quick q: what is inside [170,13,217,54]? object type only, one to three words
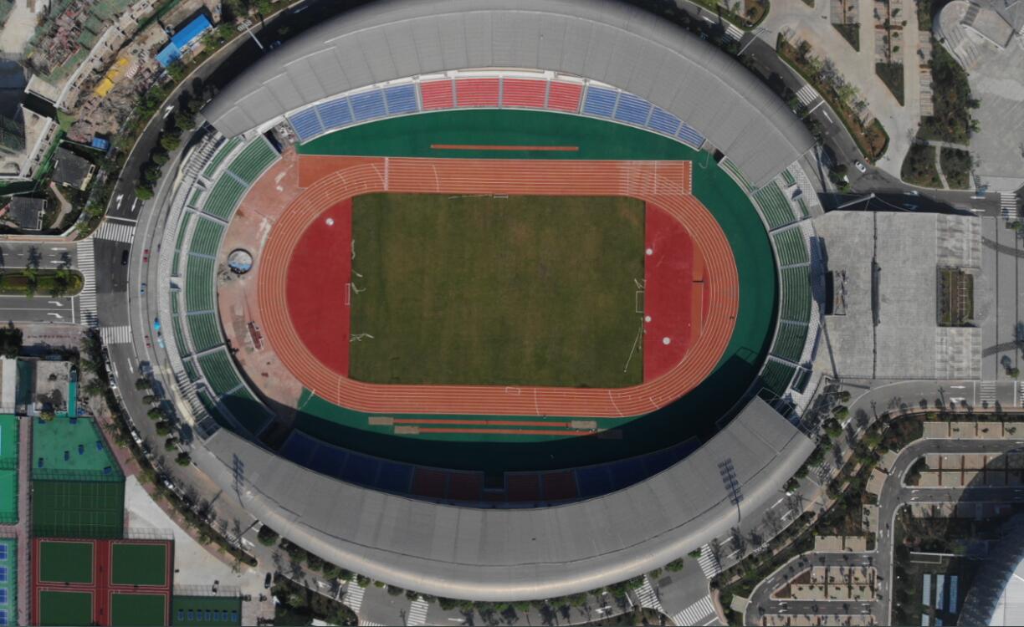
shed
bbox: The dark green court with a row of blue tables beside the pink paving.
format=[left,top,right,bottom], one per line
[174,597,240,627]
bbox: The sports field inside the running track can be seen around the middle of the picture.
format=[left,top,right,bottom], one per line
[351,194,645,386]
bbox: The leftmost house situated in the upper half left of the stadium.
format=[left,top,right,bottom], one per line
[9,197,54,230]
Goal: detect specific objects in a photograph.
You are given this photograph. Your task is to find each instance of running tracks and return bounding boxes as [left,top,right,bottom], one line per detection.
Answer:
[257,110,777,471]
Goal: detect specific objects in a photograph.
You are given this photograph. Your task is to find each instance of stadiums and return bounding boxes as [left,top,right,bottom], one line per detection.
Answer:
[155,0,835,601]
